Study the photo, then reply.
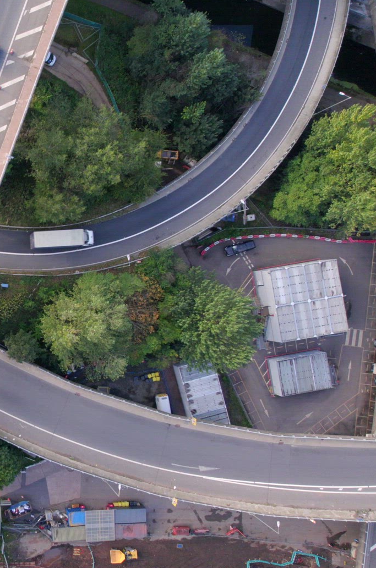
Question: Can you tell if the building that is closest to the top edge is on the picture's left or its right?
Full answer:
You can find the building that is closest to the top edge on the right side of the picture.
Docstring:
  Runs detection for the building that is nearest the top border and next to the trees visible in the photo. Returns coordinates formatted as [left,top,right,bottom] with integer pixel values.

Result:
[253,258,349,345]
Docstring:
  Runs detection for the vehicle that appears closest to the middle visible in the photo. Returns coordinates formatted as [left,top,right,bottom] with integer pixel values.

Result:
[222,239,257,256]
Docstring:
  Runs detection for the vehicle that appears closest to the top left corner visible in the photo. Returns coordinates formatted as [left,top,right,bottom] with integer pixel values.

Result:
[45,53,61,68]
